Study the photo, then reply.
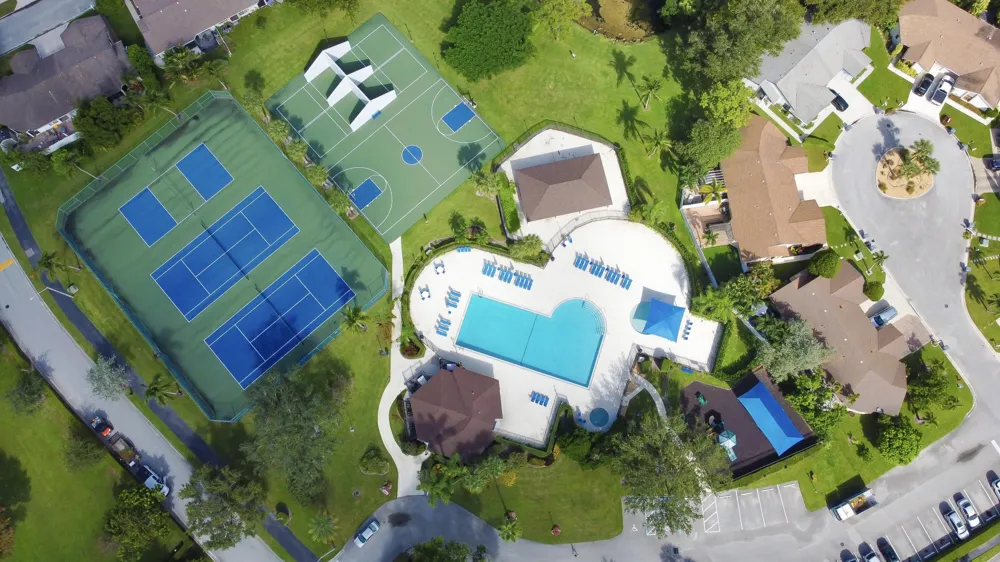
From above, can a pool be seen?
Yes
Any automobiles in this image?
Yes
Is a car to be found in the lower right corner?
Yes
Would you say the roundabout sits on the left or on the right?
right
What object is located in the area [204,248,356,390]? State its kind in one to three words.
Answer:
tennis court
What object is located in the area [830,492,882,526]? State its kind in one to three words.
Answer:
truck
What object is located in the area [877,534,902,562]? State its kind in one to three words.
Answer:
car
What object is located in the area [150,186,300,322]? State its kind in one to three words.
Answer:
tennis court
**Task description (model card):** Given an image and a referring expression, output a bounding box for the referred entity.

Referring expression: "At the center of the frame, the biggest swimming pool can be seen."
[454,292,606,389]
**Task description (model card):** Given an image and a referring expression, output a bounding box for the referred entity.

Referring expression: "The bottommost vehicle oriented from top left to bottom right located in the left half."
[133,466,167,496]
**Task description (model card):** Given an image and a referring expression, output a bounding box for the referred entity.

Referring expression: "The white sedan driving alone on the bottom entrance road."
[352,519,381,548]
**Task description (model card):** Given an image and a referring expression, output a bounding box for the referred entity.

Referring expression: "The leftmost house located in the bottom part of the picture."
[410,366,503,458]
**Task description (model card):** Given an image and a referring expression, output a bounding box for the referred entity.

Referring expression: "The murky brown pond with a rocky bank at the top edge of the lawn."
[576,0,675,43]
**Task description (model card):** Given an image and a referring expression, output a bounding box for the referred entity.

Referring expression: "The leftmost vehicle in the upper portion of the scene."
[830,85,852,112]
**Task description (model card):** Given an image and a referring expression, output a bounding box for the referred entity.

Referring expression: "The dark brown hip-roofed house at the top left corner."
[0,16,127,152]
